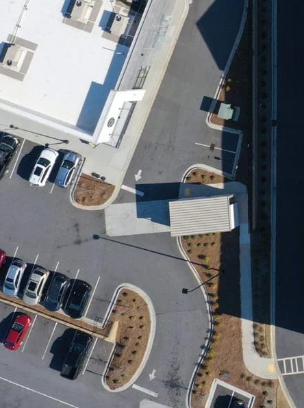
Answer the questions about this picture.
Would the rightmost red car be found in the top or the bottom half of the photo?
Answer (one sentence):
The bottom half of the photo is where the rightmost red car is.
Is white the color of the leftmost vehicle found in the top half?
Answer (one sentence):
No, from above the leftmost vehicle found in the top half looks black.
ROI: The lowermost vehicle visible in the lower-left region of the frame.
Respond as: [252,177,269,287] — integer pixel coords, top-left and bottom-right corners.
[60,333,93,380]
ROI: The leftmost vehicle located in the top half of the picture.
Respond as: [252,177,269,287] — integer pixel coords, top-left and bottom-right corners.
[0,135,20,182]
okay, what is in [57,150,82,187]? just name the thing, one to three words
car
